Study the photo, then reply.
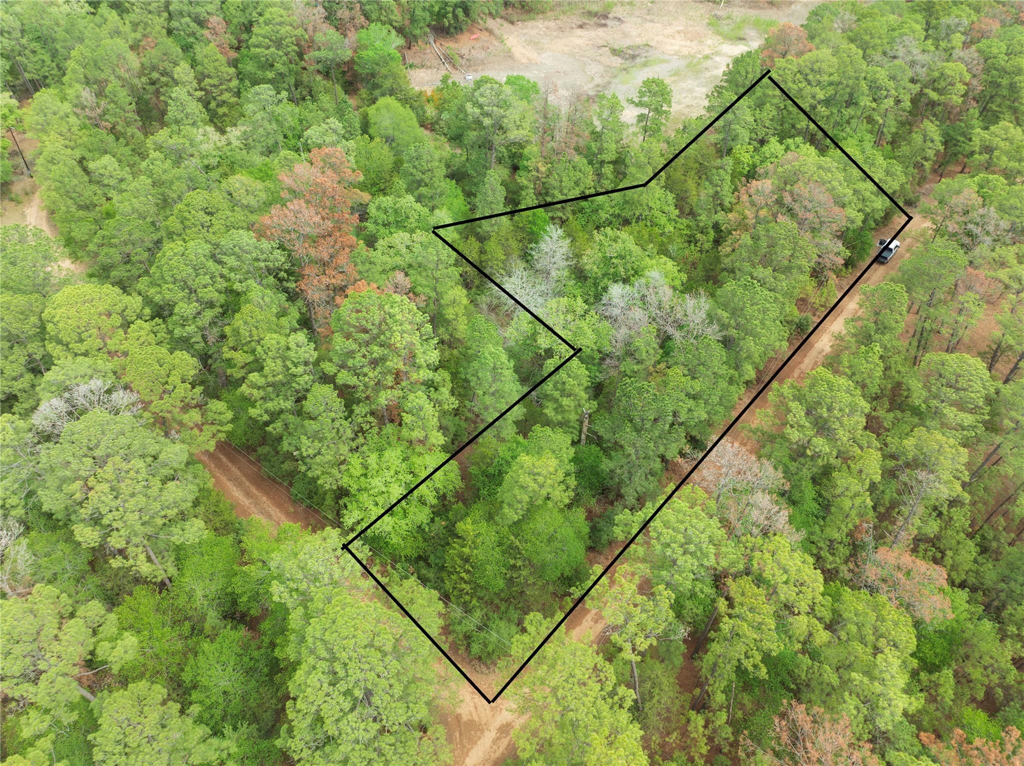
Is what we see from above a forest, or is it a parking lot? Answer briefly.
forest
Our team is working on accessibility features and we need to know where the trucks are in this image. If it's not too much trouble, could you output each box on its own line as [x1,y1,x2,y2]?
[877,236,902,258]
